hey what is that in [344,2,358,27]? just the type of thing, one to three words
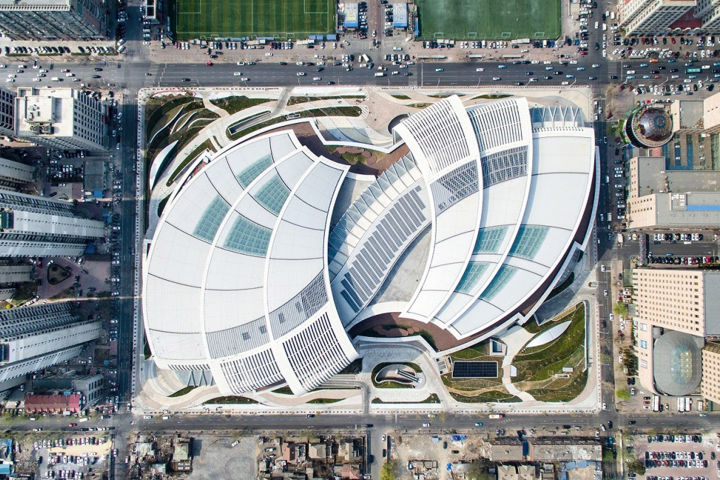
shed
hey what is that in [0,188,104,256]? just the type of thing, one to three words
building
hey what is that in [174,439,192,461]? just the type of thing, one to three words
house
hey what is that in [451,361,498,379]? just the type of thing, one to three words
solar array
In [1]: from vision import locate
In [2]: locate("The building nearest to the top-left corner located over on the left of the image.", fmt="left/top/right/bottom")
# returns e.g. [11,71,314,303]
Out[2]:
[0,0,105,44]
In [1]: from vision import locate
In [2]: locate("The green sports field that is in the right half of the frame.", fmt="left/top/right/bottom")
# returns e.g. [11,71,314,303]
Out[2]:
[417,0,562,40]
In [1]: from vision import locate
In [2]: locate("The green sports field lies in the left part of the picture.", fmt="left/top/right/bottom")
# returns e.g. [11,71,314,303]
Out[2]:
[176,0,335,40]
